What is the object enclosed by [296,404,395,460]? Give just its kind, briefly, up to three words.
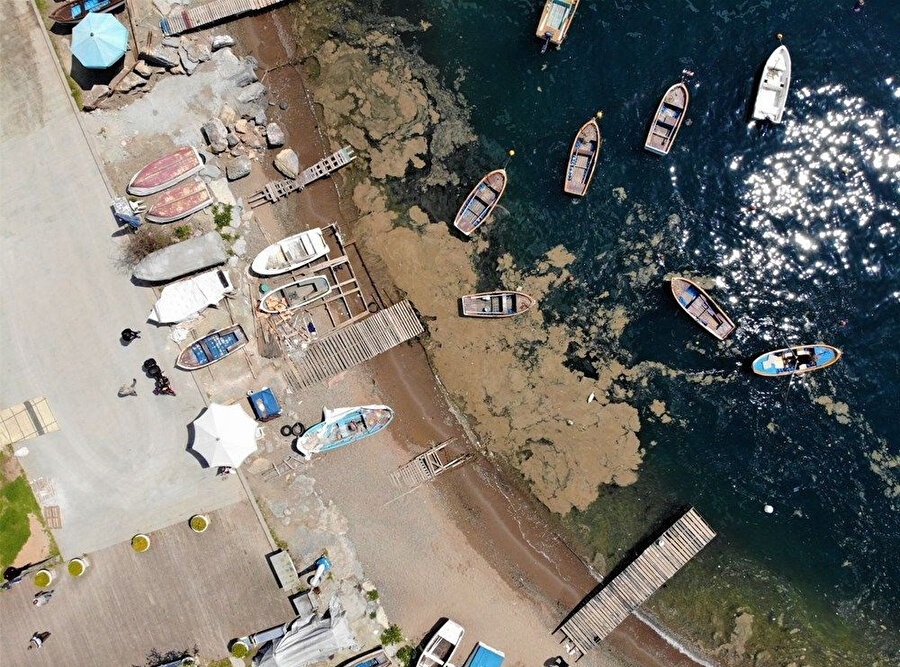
boat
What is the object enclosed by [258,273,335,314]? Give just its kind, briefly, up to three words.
boat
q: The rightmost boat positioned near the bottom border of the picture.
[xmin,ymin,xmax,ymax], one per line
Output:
[465,638,505,667]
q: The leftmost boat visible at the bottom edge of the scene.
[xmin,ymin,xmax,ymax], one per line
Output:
[255,591,358,667]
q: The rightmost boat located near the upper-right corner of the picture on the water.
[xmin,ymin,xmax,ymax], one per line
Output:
[751,41,793,128]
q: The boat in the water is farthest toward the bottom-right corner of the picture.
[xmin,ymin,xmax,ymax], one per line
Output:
[748,342,846,375]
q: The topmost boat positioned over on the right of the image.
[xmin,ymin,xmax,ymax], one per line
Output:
[532,0,580,47]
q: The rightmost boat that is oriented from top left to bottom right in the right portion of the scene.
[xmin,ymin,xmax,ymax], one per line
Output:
[669,277,732,341]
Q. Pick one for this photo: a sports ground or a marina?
marina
